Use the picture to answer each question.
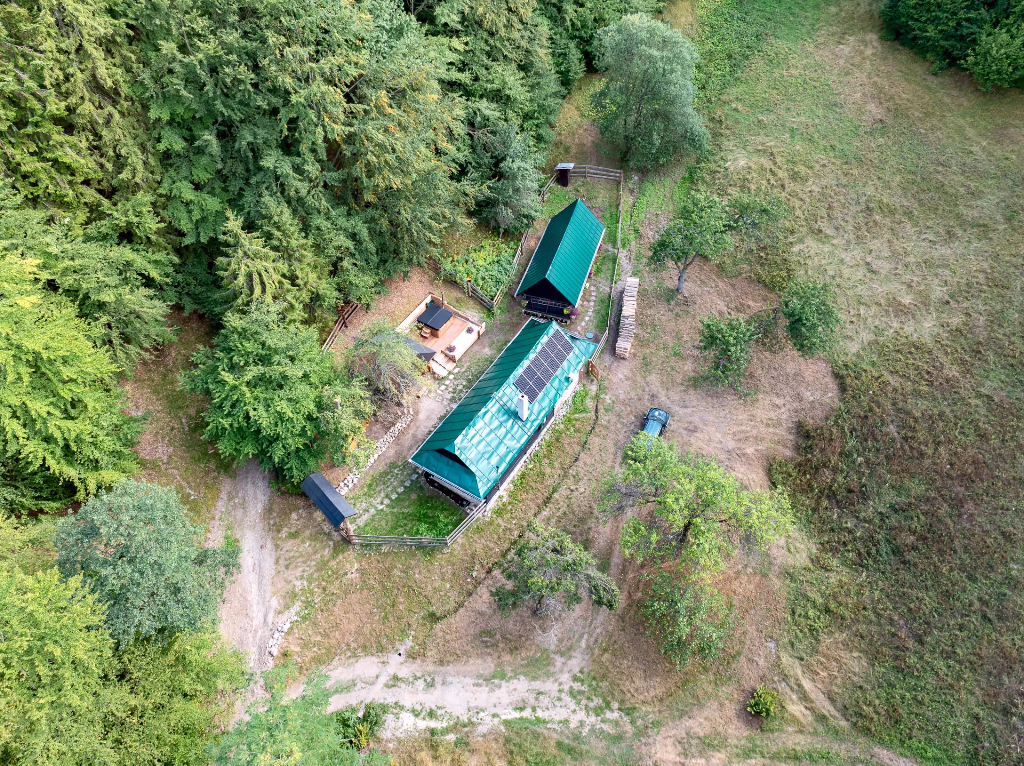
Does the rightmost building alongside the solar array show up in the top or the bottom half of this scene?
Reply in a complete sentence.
It is in the top half that the rightmost building alongside the solar array appears.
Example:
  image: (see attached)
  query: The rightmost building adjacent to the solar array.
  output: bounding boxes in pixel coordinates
[515,197,607,328]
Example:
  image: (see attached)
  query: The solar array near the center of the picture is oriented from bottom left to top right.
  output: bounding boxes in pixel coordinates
[514,327,574,404]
